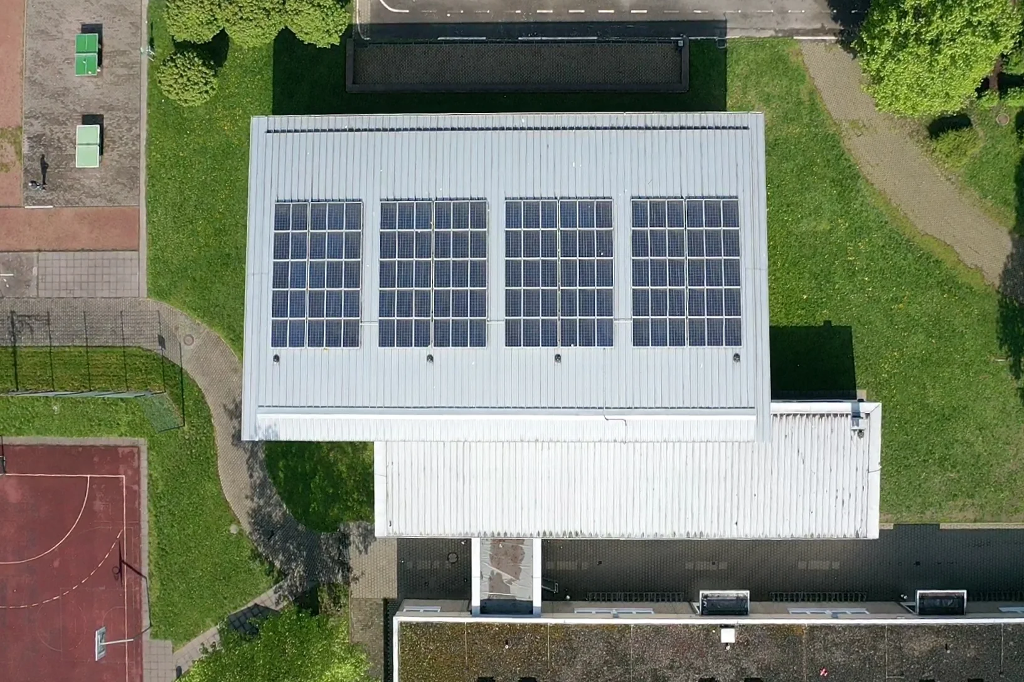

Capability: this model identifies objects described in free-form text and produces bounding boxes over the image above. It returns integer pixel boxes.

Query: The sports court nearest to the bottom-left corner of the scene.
[0,446,144,682]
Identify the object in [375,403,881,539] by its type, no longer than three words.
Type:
building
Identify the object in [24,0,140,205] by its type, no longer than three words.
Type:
tennis court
